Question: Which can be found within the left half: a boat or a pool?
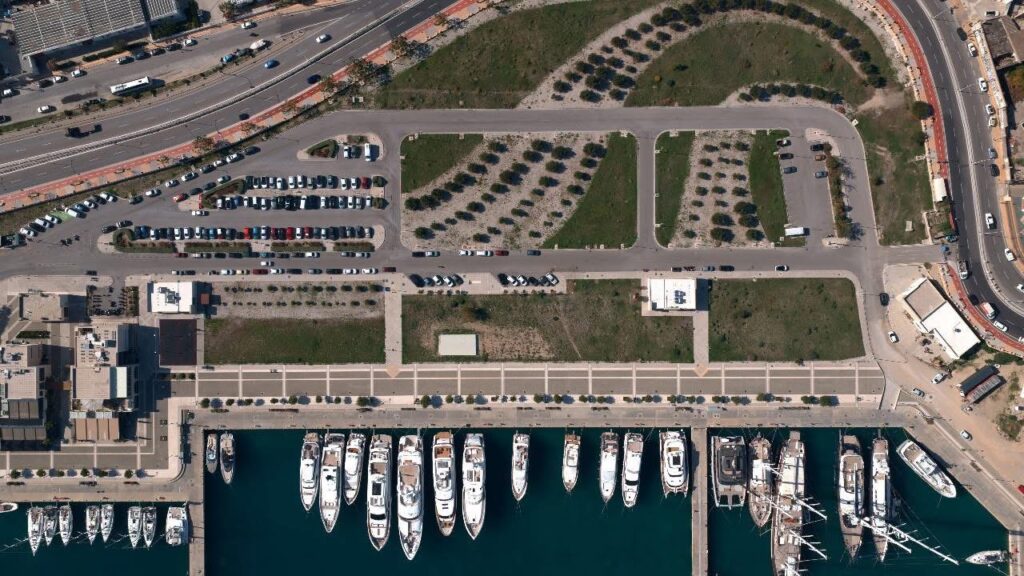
boat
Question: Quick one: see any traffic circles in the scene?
No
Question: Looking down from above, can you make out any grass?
Yes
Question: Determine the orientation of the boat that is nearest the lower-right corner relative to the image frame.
horizontally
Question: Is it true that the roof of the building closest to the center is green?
No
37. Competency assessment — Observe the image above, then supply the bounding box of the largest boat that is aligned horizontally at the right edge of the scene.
[965,549,1019,574]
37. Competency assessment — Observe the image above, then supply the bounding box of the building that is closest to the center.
[647,279,696,310]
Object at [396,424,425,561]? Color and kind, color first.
white boat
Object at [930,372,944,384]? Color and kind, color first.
white vehicle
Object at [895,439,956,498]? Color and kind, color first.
white boat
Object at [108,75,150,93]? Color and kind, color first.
white vehicle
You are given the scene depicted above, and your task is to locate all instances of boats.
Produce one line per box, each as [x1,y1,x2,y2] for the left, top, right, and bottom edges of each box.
[0,500,44,556]
[149,497,189,546]
[837,425,910,559]
[432,421,457,537]
[562,423,581,492]
[711,426,755,507]
[343,422,366,505]
[620,422,643,508]
[965,549,1019,574]
[125,500,157,550]
[510,424,530,501]
[109,500,143,548]
[770,431,827,576]
[320,423,346,533]
[79,498,115,542]
[895,439,956,498]
[220,422,236,484]
[462,432,487,540]
[749,429,788,527]
[299,422,321,511]
[36,500,74,546]
[367,424,395,552]
[0,503,18,513]
[20,499,58,546]
[597,421,619,503]
[660,421,689,498]
[396,424,425,561]
[206,433,218,473]
[871,428,958,563]
[64,500,101,544]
